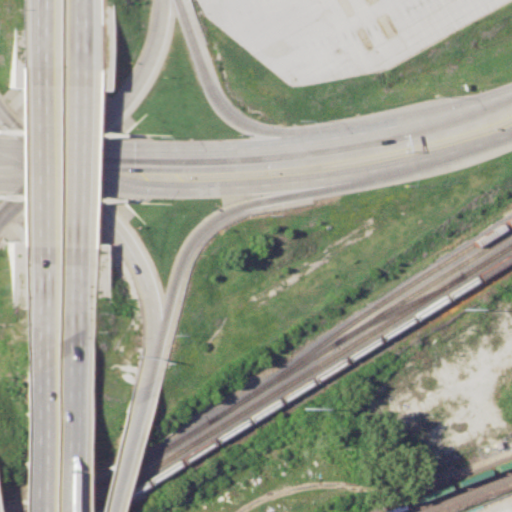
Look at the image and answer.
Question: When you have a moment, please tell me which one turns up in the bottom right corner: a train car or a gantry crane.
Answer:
train car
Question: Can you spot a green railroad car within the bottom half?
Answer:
Yes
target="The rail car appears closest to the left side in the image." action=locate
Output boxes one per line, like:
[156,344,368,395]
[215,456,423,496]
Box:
[132,482,158,502]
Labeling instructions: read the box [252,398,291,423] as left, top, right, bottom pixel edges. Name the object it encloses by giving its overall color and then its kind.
white rail car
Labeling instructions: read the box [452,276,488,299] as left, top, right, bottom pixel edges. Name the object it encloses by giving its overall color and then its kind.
white rail car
